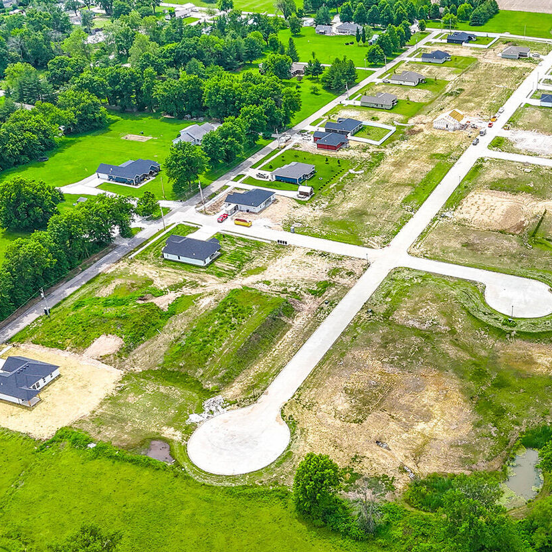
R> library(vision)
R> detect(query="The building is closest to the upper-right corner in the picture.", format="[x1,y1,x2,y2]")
[502,46,534,59]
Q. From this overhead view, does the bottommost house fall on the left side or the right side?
left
